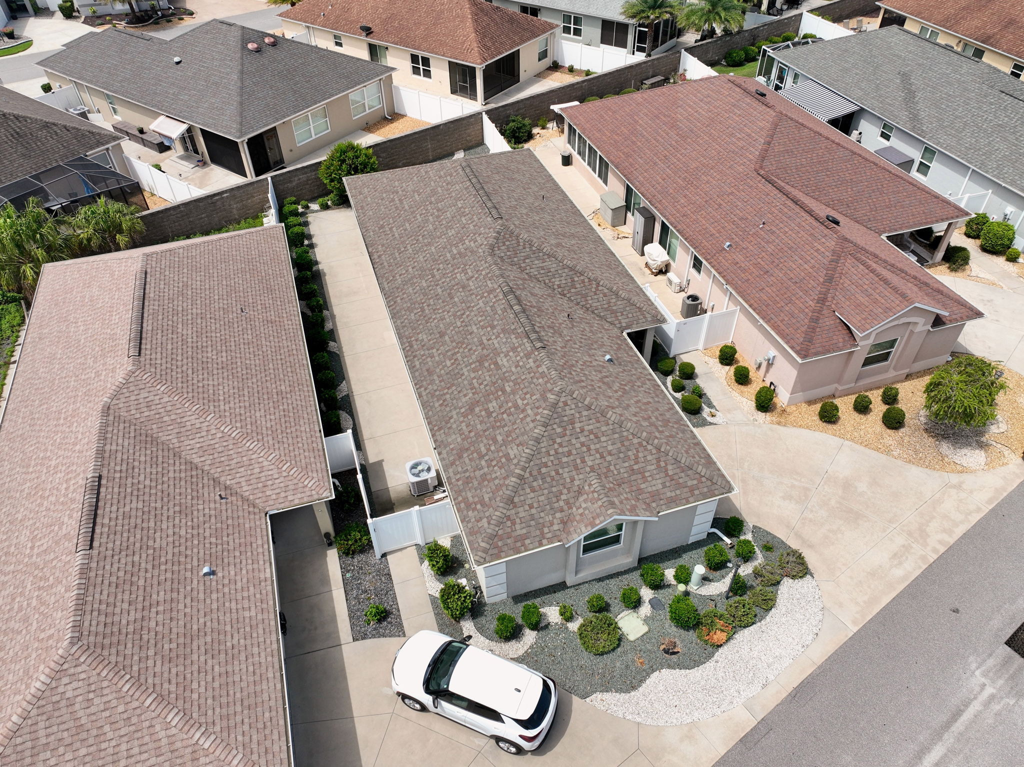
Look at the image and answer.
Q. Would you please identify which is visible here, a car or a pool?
car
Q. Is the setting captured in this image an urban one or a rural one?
urban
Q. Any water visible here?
No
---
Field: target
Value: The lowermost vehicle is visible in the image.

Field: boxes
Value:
[388,631,563,756]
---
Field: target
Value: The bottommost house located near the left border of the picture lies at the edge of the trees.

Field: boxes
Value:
[0,224,341,767]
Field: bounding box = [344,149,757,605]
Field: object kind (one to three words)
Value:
house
